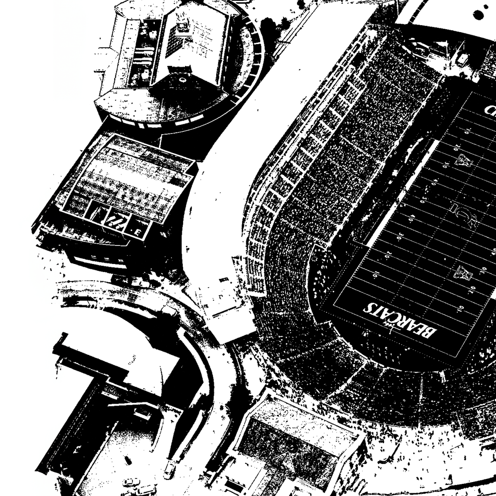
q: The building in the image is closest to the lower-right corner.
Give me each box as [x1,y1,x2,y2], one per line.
[221,387,367,496]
